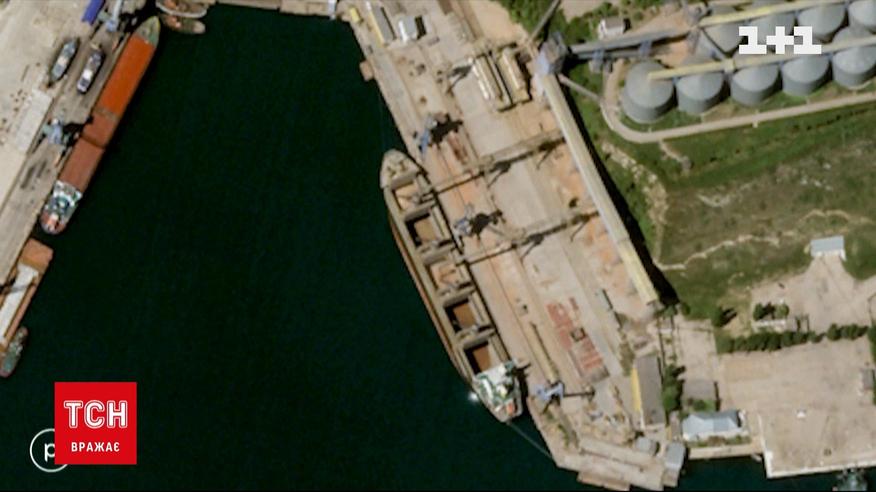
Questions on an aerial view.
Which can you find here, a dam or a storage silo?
storage silo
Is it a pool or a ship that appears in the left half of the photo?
ship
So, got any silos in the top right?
Yes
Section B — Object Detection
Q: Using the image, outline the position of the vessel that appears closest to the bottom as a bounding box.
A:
[834,466,865,492]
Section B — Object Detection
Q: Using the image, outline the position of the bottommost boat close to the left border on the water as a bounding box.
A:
[0,328,28,380]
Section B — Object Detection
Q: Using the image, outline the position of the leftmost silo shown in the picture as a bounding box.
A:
[622,64,674,123]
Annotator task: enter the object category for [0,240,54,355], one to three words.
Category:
ship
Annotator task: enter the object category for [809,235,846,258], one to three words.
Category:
hangar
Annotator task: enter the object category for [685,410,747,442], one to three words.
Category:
house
